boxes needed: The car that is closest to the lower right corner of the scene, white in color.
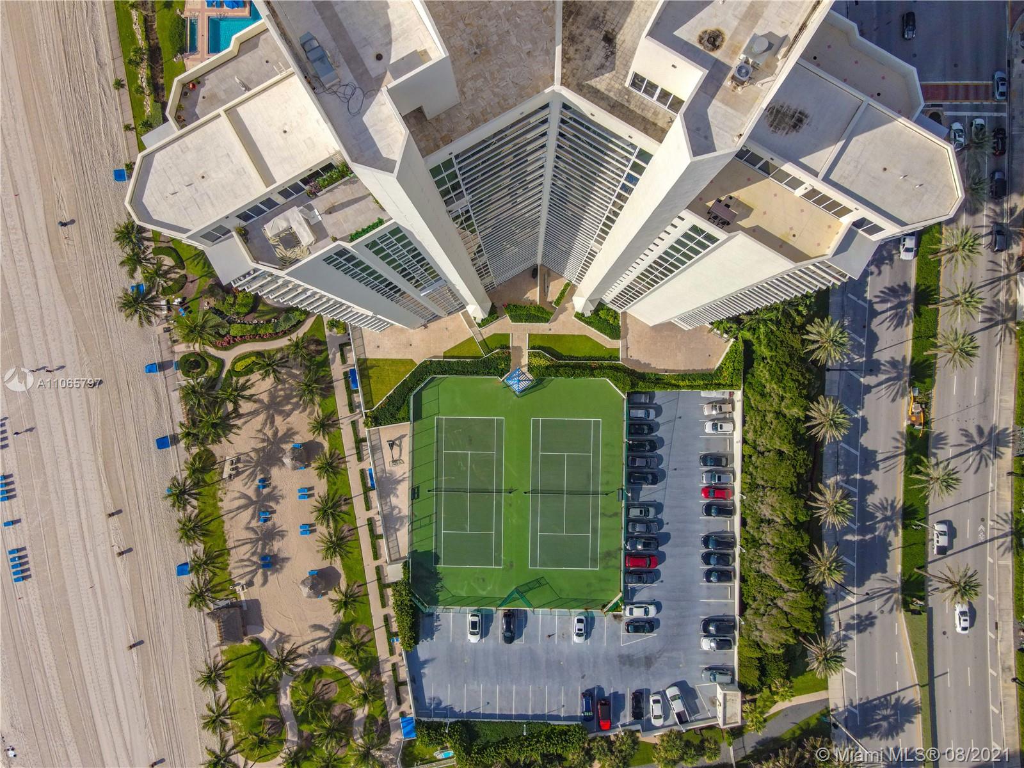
[953,602,970,633]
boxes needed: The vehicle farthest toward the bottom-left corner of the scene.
[467,611,481,642]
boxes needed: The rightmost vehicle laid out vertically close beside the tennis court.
[573,613,587,643]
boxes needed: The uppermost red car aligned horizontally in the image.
[701,486,732,500]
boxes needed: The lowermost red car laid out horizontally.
[626,554,657,569]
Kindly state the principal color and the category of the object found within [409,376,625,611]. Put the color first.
green tennis court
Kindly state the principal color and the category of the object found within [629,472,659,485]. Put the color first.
black vehicle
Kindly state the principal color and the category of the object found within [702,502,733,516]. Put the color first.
black car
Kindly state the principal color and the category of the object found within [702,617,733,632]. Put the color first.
black car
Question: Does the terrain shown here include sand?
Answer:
Yes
